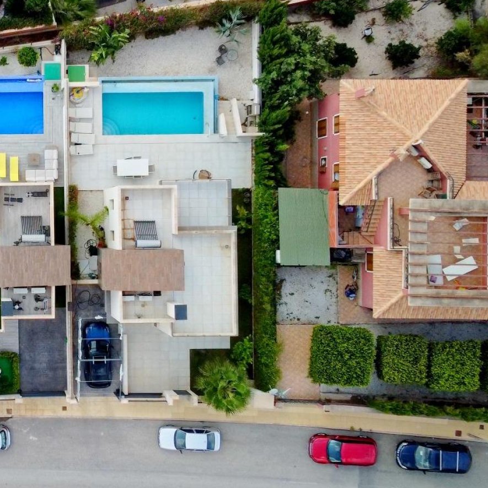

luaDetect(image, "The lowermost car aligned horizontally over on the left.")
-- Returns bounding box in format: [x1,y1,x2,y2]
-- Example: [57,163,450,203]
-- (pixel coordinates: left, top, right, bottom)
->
[155,424,221,454]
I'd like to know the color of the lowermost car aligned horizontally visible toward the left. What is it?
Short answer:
white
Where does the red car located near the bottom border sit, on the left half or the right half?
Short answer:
right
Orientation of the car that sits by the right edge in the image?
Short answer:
from left to right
